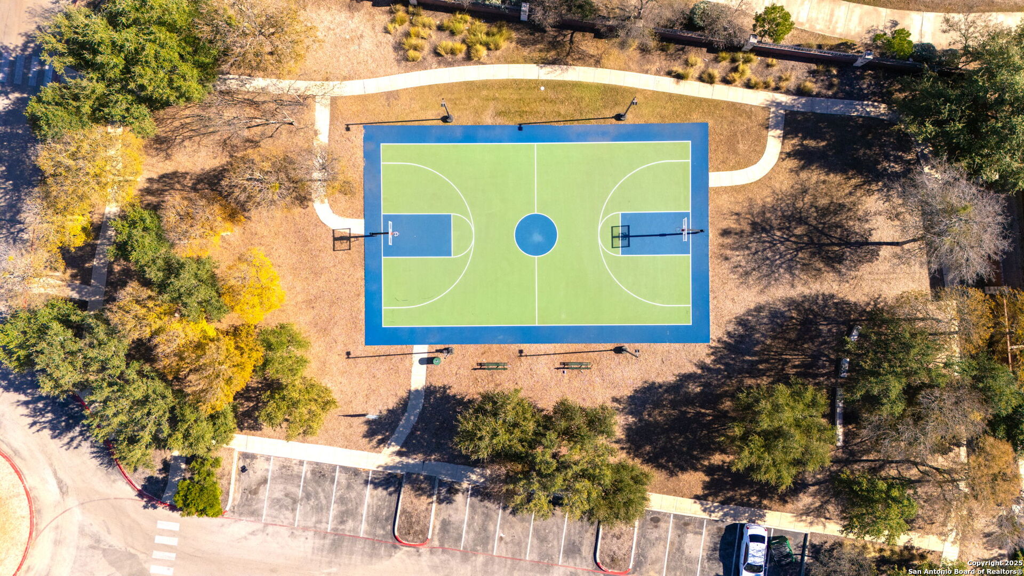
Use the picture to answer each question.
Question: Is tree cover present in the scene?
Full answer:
Yes, there's tree cover in this view.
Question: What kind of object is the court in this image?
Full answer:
I'd say the court is a basketball court.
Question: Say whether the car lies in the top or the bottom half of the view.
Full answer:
The car is in the bottom half of the image.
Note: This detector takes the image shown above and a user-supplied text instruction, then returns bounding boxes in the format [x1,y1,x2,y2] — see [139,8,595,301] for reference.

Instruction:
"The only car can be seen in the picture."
[738,524,769,576]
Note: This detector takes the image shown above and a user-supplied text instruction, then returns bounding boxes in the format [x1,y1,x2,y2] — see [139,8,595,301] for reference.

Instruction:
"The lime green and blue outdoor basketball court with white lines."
[364,123,709,345]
